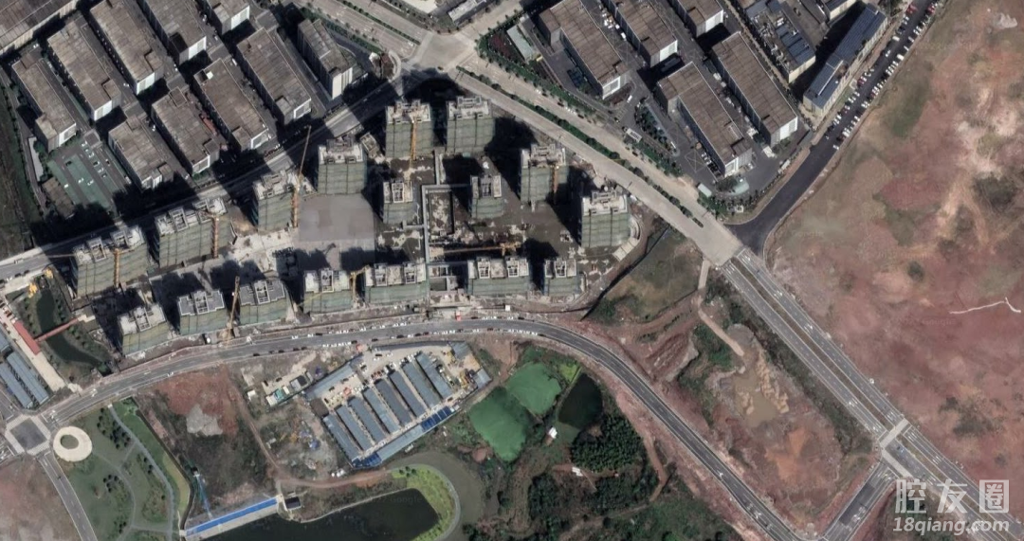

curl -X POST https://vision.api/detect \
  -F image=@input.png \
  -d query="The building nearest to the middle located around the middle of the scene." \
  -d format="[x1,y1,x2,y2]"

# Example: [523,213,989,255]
[465,255,531,298]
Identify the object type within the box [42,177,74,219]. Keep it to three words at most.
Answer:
shed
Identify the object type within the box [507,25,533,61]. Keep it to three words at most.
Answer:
shed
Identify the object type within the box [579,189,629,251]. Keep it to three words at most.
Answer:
building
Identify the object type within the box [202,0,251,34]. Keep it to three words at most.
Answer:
building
